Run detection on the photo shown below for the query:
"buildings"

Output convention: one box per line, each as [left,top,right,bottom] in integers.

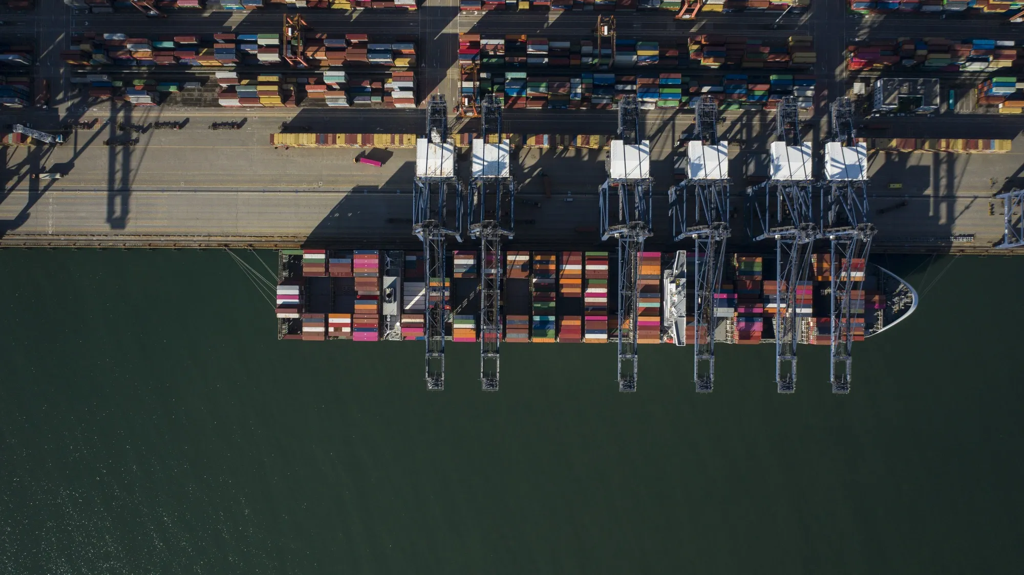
[874,78,940,115]
[851,83,865,95]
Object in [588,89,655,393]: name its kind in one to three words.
container crane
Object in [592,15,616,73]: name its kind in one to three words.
container crane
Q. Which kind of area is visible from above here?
port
